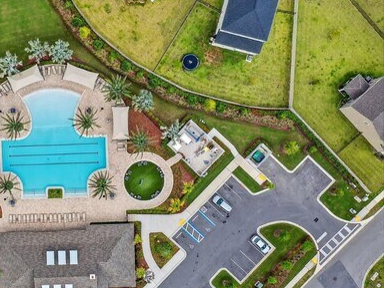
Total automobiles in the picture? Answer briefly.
two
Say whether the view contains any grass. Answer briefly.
Yes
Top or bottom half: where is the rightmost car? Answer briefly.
bottom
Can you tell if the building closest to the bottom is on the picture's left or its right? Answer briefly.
left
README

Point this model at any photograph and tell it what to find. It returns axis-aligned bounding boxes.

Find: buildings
[0,224,136,288]
[334,70,384,153]
[209,0,279,55]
